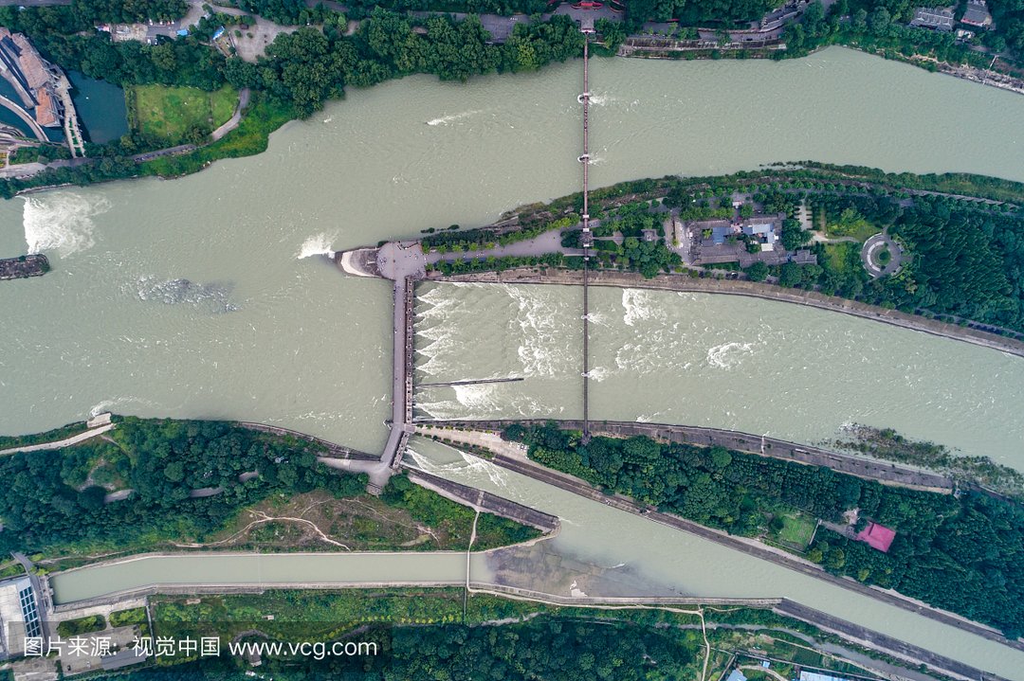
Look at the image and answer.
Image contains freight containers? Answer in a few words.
No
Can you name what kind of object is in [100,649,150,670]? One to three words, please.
shed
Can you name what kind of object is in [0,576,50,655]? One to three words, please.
building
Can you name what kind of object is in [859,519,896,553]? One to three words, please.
house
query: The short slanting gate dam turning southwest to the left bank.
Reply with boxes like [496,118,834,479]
[380,424,415,469]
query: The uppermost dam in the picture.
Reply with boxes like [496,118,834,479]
[392,271,418,426]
